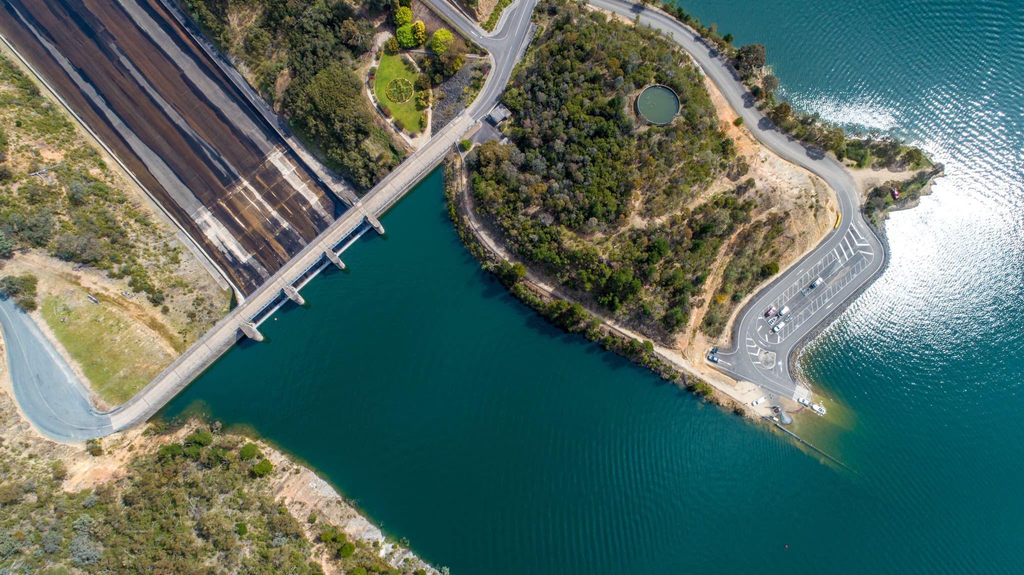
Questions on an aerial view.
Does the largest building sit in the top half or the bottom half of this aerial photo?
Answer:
top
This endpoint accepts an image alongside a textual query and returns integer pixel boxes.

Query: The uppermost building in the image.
[487,104,511,127]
